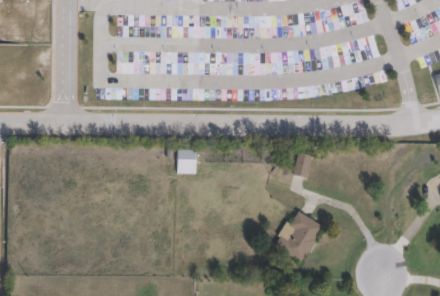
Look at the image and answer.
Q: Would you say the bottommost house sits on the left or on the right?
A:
right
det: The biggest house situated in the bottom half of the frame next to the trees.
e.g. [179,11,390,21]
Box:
[277,212,320,259]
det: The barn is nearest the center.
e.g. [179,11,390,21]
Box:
[176,150,198,175]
